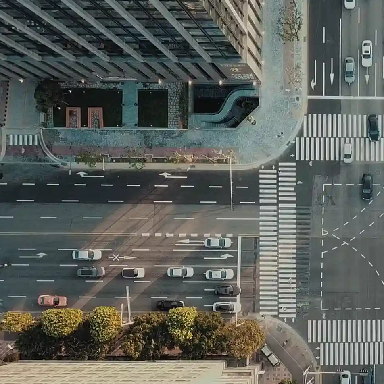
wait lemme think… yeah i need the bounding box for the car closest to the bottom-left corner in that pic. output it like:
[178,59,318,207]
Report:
[39,295,67,307]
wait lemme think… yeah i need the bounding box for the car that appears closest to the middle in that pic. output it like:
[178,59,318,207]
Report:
[205,237,232,249]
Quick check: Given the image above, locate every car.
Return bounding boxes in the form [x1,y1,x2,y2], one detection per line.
[367,114,380,141]
[167,266,195,278]
[207,268,234,280]
[363,369,373,384]
[215,284,241,297]
[341,372,351,384]
[157,299,184,310]
[122,267,144,279]
[39,295,67,307]
[343,56,356,84]
[79,266,105,278]
[342,142,354,164]
[205,237,232,249]
[214,301,241,312]
[74,249,101,261]
[361,40,373,68]
[361,173,373,201]
[344,0,354,9]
